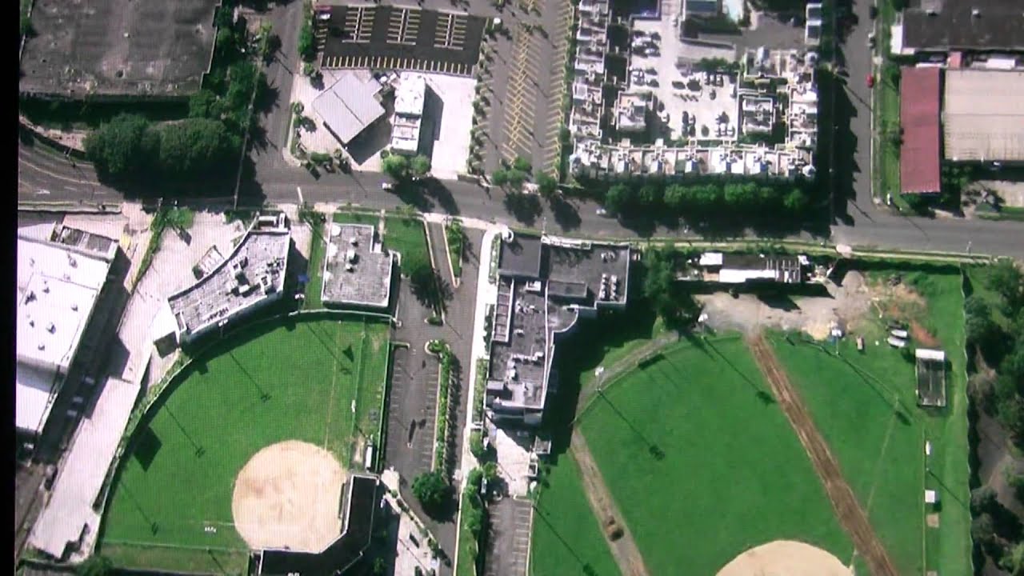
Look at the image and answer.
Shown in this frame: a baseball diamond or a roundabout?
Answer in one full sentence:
The one in the frame is a baseball diamond.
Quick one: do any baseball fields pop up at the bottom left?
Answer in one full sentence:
Yes, at the bottom left there is a baseball field.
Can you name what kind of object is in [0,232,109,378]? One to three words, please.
building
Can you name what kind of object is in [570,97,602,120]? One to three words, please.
house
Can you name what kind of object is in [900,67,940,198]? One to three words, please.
shed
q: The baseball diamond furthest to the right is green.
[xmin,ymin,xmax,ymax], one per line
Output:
[528,336,923,576]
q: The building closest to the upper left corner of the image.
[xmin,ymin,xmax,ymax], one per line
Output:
[18,0,222,101]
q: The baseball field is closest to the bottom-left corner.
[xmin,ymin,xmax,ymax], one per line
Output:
[95,314,390,576]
